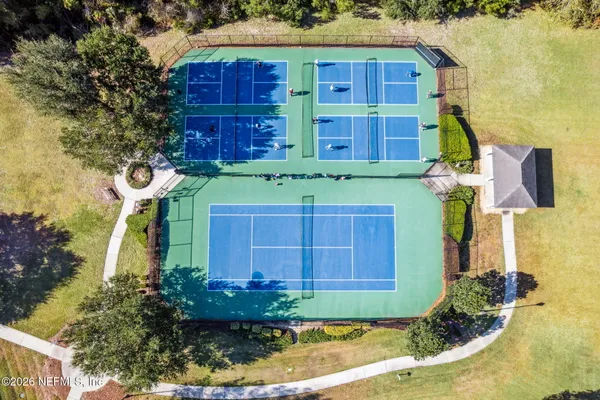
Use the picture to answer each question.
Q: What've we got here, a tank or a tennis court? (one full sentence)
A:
Visible in the photo is a tennis court.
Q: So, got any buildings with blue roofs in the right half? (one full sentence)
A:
No, I see no building with a blue roof in the right half.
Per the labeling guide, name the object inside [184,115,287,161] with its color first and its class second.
blue sports court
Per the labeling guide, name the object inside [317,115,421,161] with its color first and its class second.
blue sports court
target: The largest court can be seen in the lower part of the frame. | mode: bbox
[159,177,443,320]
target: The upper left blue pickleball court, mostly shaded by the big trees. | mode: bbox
[186,61,288,105]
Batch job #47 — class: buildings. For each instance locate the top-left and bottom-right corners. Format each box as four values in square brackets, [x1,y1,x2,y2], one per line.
[483,145,538,209]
